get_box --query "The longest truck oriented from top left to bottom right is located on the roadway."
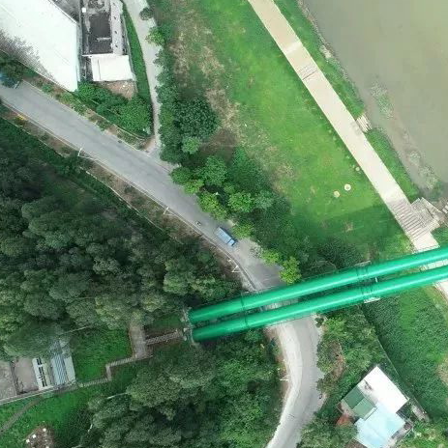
[209,226,235,247]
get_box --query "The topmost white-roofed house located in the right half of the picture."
[359,364,408,412]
